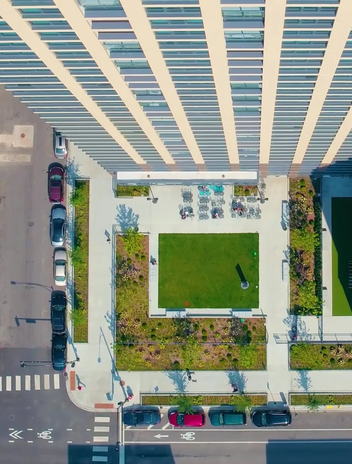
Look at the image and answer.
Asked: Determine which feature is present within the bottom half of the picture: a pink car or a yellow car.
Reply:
pink car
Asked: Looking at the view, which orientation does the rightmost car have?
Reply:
horizontally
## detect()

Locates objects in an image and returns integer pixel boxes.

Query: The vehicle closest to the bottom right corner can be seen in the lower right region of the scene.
[251,409,293,429]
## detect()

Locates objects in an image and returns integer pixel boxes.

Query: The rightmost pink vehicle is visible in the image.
[169,411,206,429]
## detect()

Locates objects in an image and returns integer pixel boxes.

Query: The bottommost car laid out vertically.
[49,332,68,371]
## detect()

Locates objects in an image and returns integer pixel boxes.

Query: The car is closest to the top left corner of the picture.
[51,127,69,160]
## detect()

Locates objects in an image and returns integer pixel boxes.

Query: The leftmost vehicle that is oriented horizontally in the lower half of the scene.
[122,409,161,428]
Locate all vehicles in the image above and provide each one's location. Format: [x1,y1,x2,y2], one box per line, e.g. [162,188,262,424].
[209,409,247,429]
[49,332,68,371]
[122,409,161,428]
[49,205,68,247]
[50,248,69,286]
[51,127,69,160]
[251,409,293,429]
[169,411,206,429]
[49,290,69,334]
[46,162,66,202]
